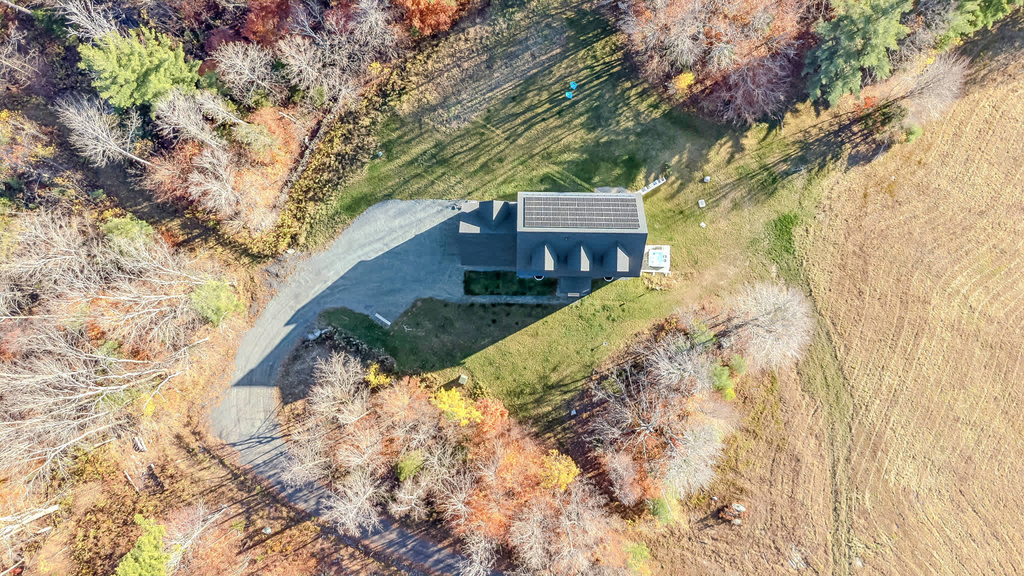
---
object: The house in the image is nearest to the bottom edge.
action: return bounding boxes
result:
[459,192,648,298]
